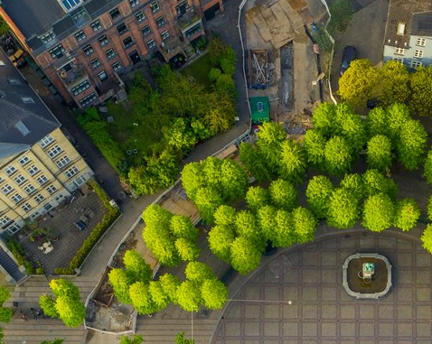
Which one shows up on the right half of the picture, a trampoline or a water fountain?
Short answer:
water fountain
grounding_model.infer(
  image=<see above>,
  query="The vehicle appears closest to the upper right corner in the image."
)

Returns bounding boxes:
[338,44,355,74]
